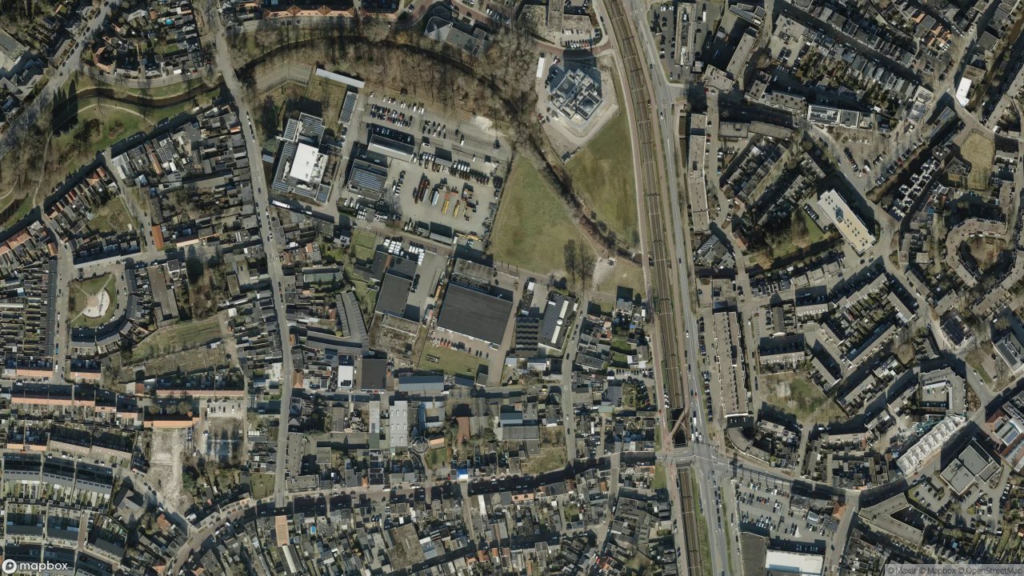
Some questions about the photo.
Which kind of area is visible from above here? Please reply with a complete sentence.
It's a residential area.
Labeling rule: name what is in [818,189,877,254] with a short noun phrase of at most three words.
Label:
building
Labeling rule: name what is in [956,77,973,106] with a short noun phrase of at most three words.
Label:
house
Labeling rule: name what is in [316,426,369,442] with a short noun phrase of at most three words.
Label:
shed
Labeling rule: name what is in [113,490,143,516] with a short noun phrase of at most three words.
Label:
building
